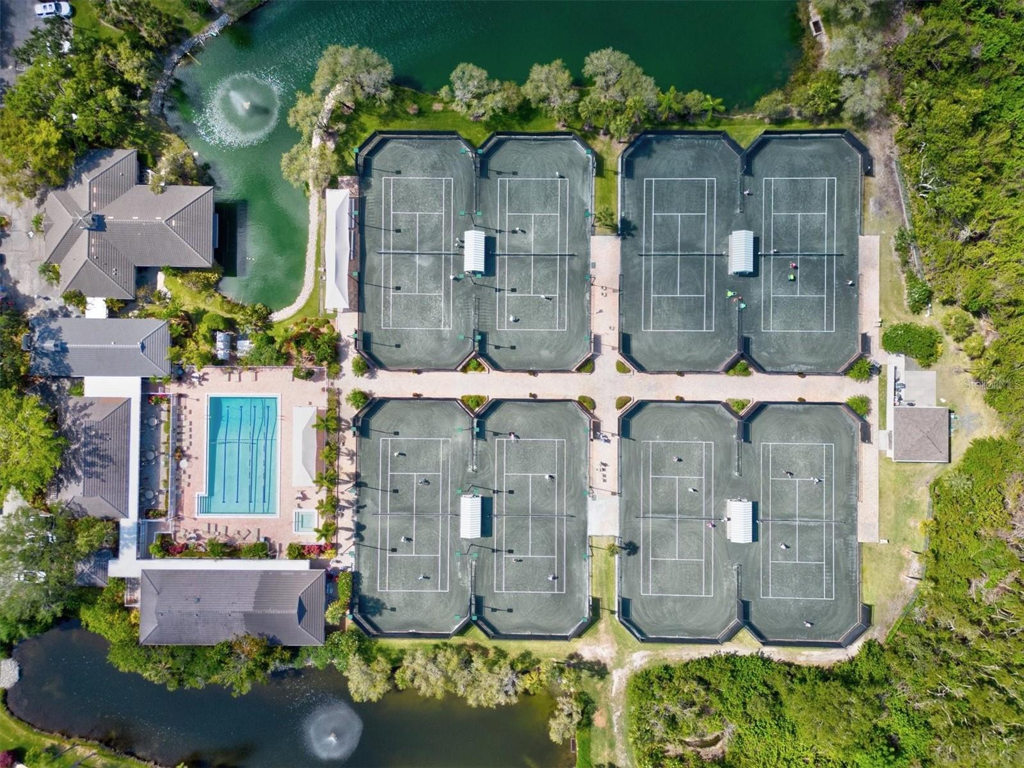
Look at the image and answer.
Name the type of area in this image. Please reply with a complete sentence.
The area seen from above is a sports ground.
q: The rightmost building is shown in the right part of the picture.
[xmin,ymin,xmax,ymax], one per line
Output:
[888,406,951,463]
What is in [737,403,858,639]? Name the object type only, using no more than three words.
tennis court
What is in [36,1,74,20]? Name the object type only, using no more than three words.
car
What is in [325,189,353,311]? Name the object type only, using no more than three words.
tent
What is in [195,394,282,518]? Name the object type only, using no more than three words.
swimming pool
